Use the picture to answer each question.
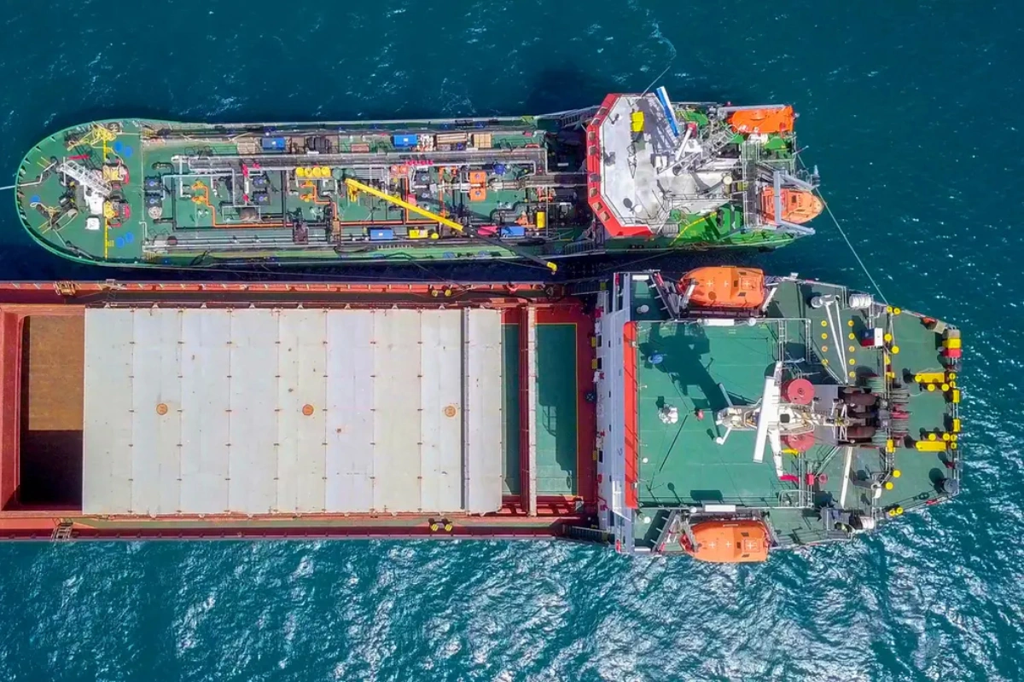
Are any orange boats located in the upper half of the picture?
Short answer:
Yes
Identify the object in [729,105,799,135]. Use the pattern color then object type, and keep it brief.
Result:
orange boat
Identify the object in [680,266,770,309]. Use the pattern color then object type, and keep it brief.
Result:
orange boat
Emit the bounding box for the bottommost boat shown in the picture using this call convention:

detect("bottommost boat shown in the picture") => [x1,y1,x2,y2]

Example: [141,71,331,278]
[681,521,772,565]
